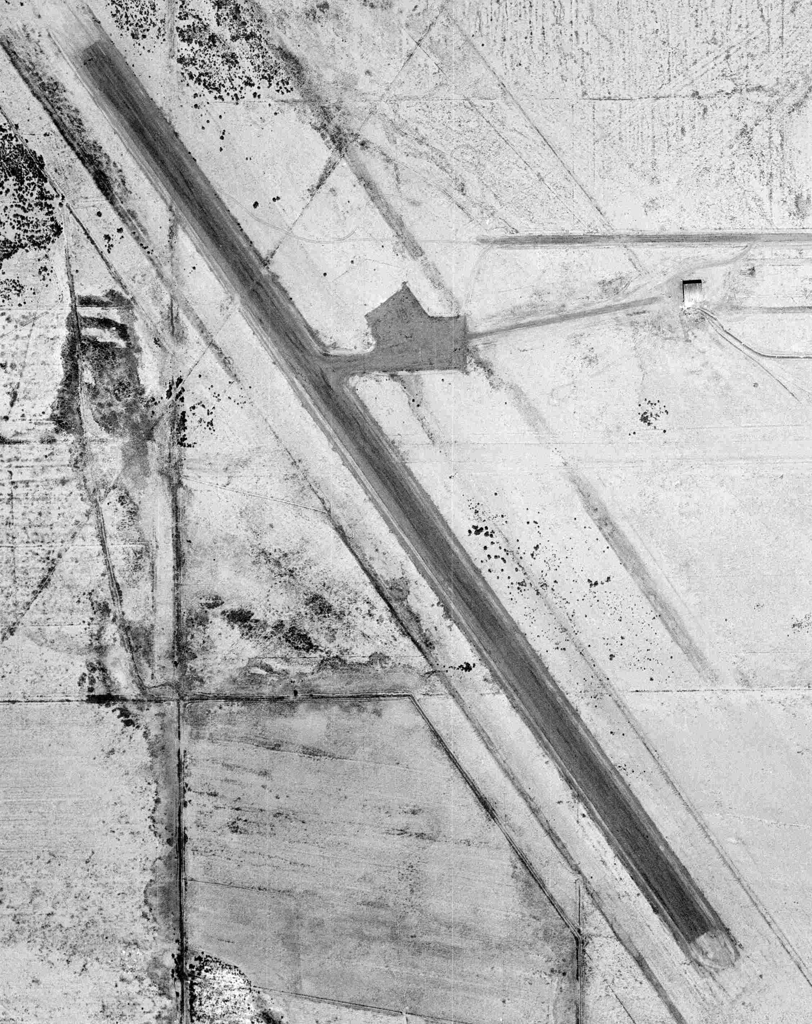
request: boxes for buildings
[683,279,705,303]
